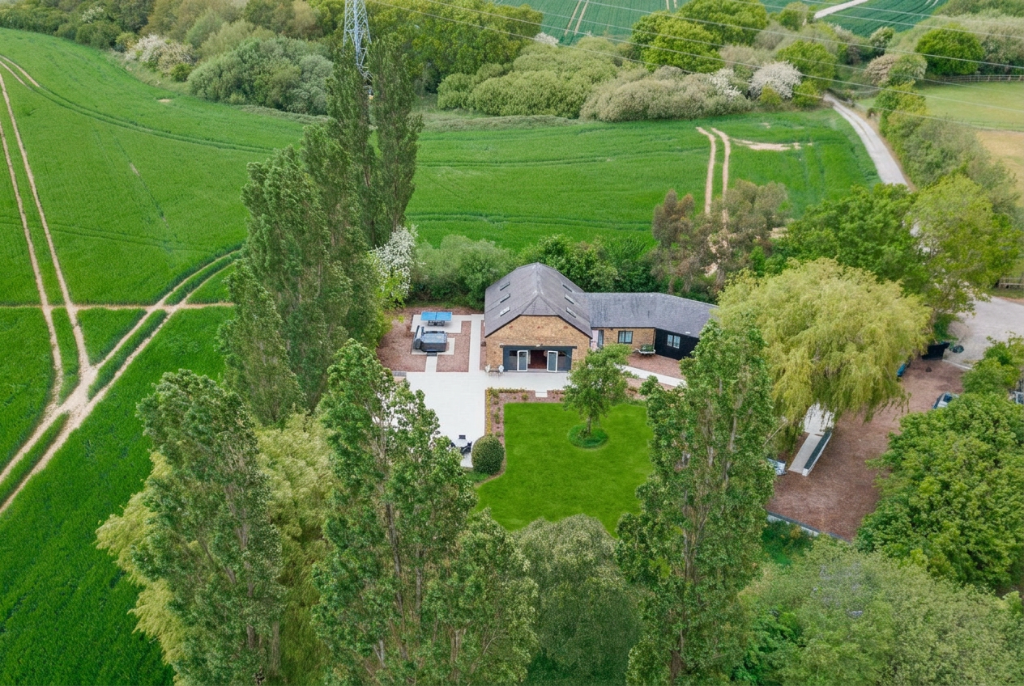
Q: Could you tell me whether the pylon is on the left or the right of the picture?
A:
left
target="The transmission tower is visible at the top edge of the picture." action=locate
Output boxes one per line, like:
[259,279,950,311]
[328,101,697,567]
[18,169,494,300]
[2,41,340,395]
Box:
[342,0,373,86]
